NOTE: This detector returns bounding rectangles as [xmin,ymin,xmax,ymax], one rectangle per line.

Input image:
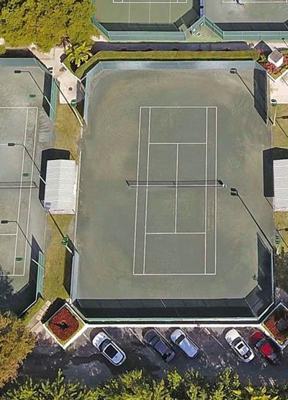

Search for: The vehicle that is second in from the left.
[143,328,177,363]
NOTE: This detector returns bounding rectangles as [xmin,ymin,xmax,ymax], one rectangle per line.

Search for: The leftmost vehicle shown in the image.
[92,330,127,366]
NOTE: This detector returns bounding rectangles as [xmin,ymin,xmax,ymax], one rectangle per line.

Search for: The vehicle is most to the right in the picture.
[249,330,281,365]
